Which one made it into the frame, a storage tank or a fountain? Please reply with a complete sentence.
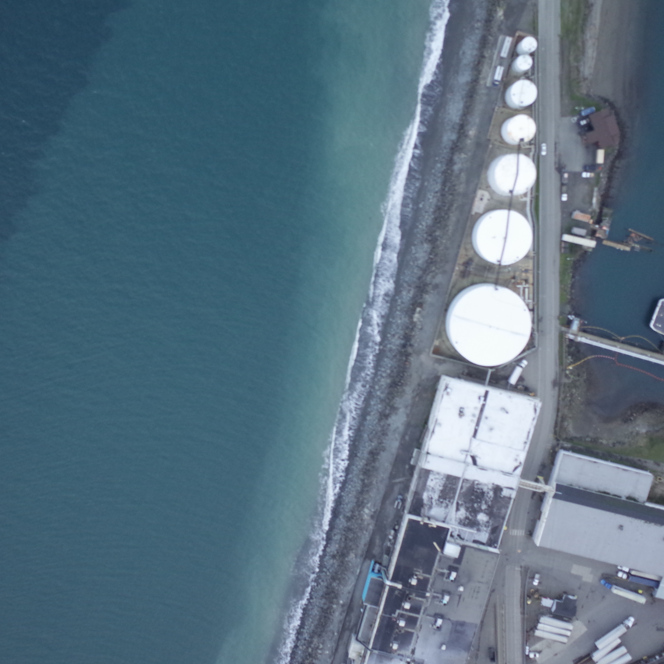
The one in the frame is a storage tank.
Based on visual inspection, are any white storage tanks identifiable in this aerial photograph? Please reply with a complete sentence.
Yes, there's a white storage tank here.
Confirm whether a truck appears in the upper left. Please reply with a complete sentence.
No, there is no truck in the upper left.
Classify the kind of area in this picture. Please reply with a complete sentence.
It's a port.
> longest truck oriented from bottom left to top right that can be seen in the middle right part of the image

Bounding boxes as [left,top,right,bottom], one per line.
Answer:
[508,355,531,384]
